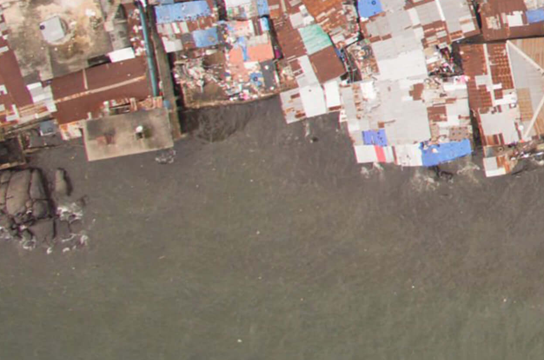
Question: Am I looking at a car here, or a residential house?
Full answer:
It is a residential house that can be seen here.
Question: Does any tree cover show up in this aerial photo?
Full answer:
No, the picture contains no tree cover.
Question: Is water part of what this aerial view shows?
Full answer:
Yes, some water is visible.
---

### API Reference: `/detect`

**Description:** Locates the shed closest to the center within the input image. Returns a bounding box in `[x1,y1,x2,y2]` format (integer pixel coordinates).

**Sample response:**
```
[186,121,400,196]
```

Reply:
[280,83,329,124]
